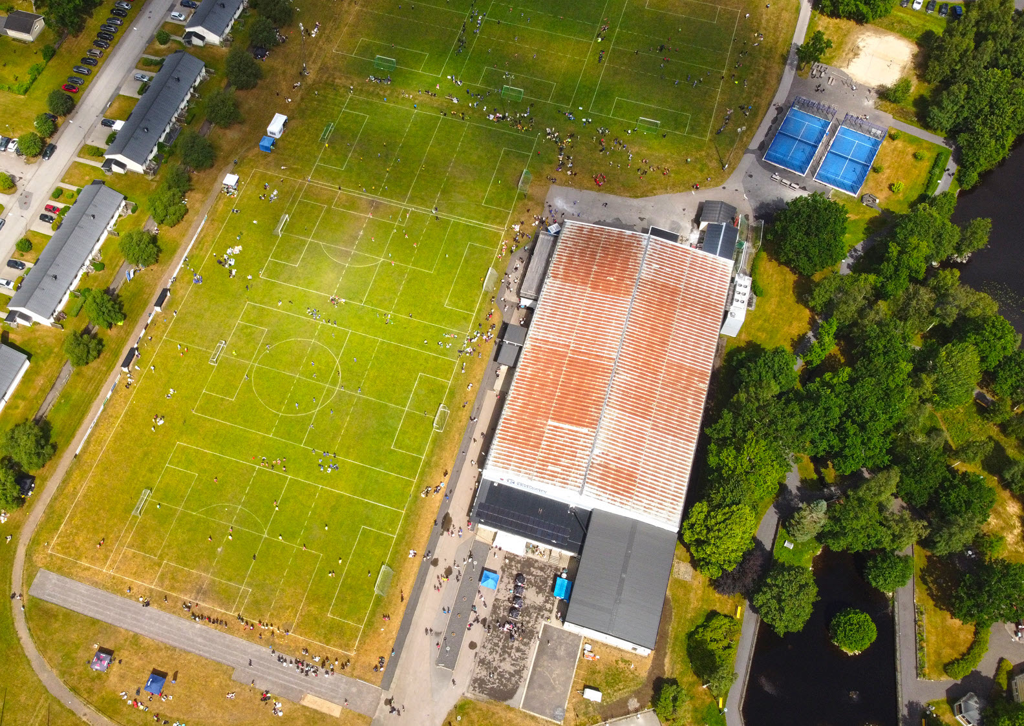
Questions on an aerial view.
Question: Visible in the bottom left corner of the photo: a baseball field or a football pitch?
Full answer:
The one visible in the bottom left corner of the photo is a football pitch.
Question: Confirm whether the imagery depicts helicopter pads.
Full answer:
No, there is no helicopter pad in the image.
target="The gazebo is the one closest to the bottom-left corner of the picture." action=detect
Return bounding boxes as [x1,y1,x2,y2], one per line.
[90,652,116,674]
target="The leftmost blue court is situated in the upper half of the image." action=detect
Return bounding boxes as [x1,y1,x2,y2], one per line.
[763,94,834,177]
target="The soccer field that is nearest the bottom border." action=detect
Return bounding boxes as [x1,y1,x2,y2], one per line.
[113,442,404,653]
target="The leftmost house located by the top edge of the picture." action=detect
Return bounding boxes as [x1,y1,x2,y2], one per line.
[4,10,43,39]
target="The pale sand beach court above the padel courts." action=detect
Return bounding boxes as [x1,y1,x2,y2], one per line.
[848,28,915,85]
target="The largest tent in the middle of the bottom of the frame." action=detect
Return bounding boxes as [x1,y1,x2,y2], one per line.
[493,531,527,557]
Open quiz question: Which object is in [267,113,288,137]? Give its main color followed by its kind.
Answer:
white tent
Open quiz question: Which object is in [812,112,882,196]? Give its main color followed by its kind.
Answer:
blue sports court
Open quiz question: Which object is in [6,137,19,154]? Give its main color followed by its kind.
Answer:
white vehicle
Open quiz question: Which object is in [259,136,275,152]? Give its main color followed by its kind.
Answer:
blue gazebo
